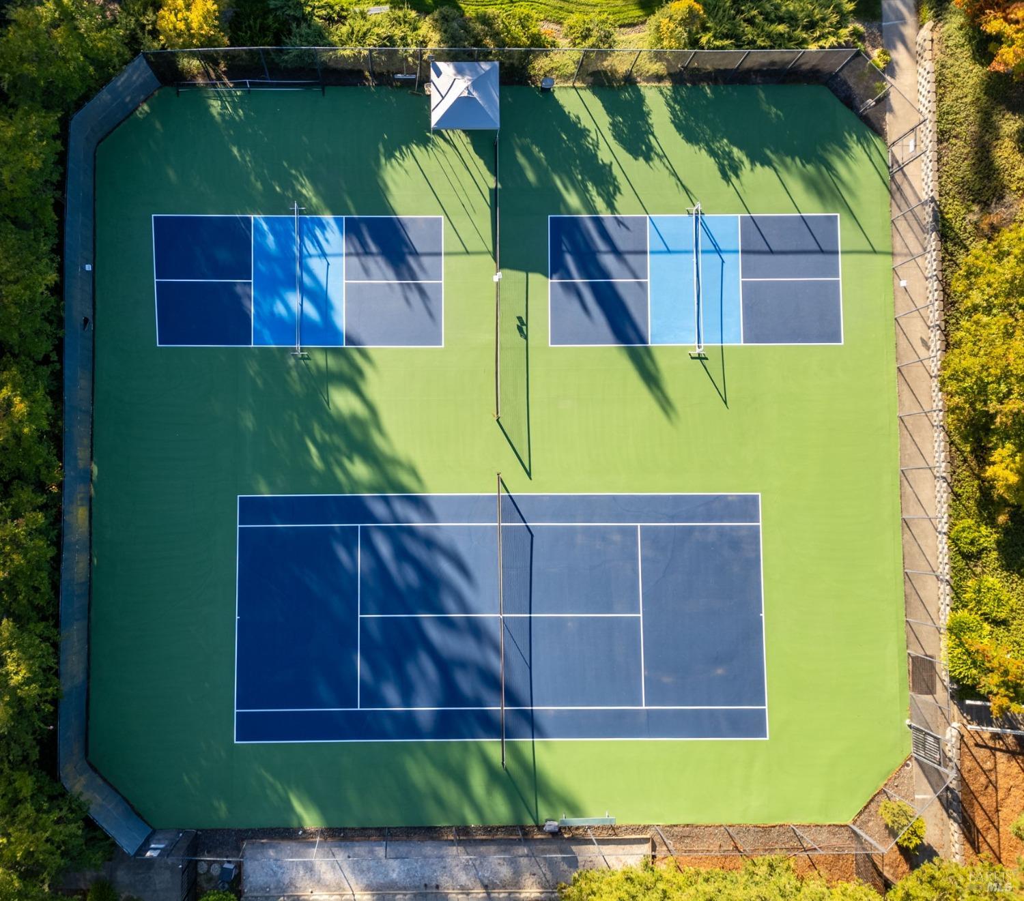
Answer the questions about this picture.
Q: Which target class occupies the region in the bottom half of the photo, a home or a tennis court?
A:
tennis court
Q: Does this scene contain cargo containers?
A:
No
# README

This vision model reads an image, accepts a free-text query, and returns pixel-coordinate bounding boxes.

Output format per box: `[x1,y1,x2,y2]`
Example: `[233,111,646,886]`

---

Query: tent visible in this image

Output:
[429,61,500,147]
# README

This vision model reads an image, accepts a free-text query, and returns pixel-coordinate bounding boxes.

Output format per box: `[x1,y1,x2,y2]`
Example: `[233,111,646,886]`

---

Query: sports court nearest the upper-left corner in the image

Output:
[152,215,444,347]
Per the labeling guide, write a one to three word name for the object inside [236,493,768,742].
tennis court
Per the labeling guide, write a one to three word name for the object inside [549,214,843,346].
sports court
